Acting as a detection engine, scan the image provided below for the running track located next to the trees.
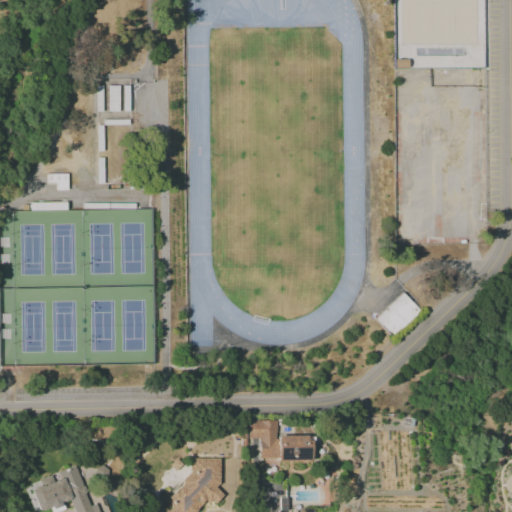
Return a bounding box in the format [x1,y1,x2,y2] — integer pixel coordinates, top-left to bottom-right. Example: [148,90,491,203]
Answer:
[187,0,366,346]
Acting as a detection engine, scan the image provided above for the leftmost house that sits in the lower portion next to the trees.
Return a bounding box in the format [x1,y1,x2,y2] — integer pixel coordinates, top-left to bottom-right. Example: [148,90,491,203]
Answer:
[26,466,98,512]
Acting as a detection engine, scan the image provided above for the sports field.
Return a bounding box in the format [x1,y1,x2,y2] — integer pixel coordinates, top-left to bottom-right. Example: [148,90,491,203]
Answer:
[210,28,346,320]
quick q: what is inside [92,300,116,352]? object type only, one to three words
tennis court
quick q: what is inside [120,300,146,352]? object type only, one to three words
tennis court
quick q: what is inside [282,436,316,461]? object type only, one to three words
house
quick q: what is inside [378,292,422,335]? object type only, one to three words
building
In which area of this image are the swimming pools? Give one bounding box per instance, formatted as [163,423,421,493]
[296,490,320,502]
[104,494,120,512]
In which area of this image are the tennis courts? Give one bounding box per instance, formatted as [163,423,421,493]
[88,223,114,274]
[121,223,145,274]
[120,300,146,352]
[22,302,46,352]
[52,301,76,352]
[50,224,76,274]
[21,224,46,275]
[92,300,116,352]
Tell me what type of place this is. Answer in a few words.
sports ground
